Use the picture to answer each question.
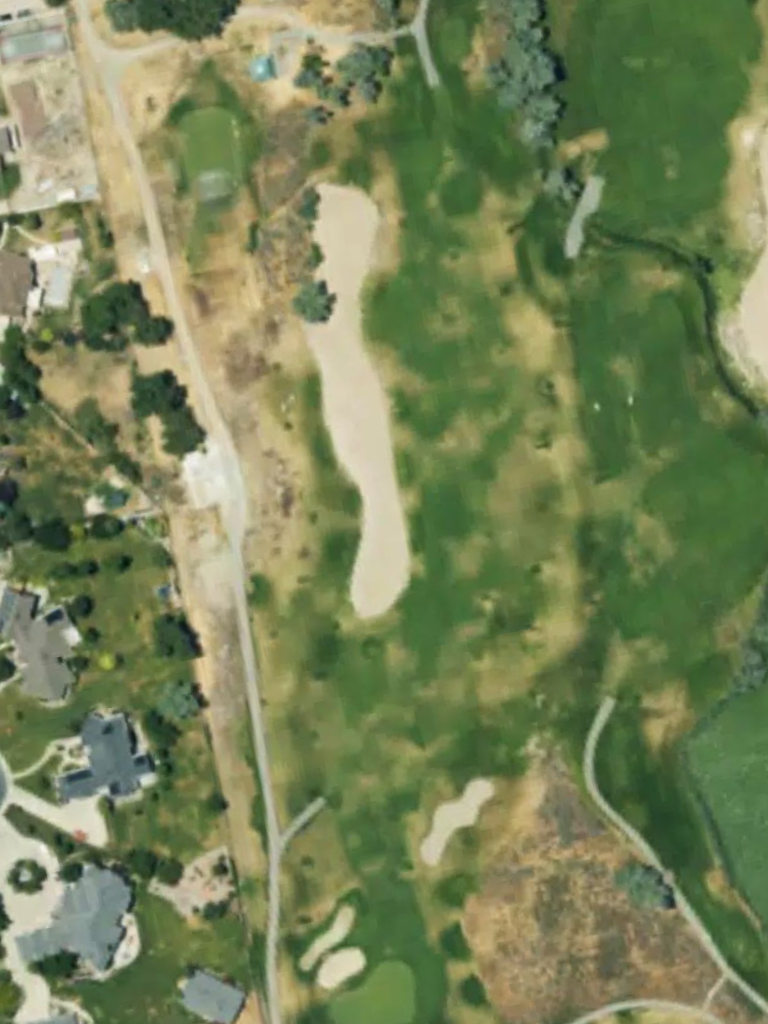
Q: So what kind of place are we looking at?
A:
golf course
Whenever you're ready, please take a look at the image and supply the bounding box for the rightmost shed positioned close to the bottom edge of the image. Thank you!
[181,972,245,1024]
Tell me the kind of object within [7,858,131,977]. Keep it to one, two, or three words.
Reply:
house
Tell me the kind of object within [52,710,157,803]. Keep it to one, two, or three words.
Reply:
house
